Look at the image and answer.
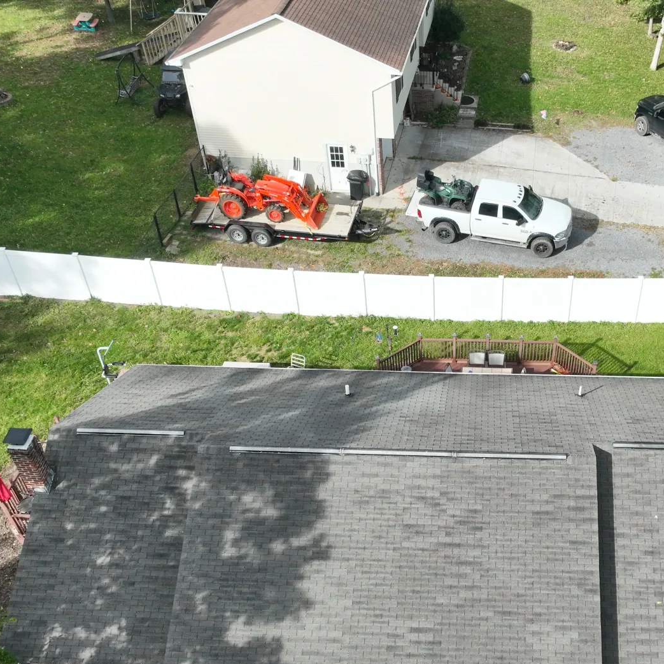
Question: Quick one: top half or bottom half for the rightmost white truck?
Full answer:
It is in the top half that the rightmost white truck appears.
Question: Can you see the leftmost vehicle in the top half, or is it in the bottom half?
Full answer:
The leftmost vehicle sits in the top half of the picture.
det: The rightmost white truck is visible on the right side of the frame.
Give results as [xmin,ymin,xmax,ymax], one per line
[410,183,579,258]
